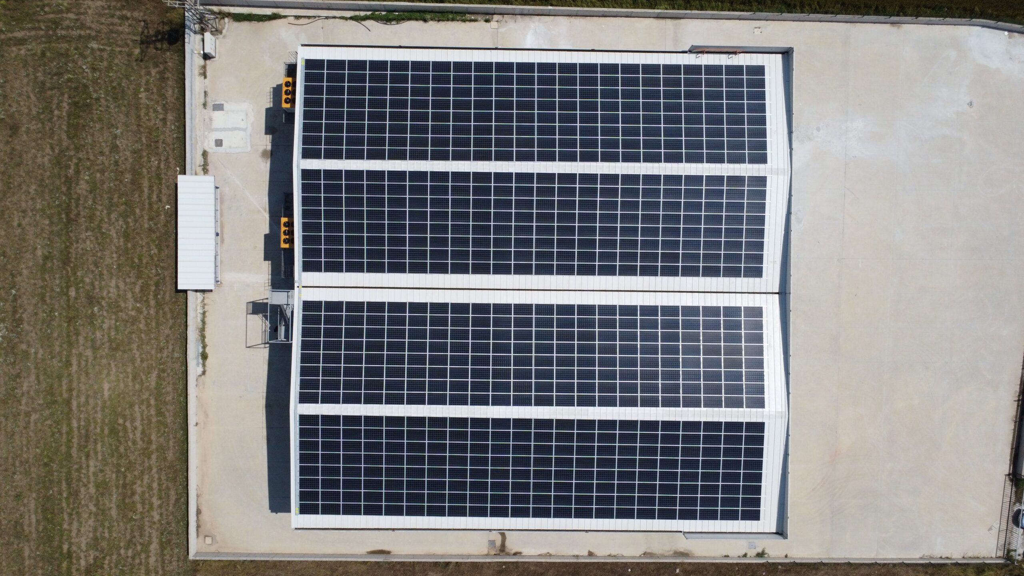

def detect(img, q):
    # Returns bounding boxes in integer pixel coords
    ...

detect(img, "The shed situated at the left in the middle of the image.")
[177,175,223,290]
